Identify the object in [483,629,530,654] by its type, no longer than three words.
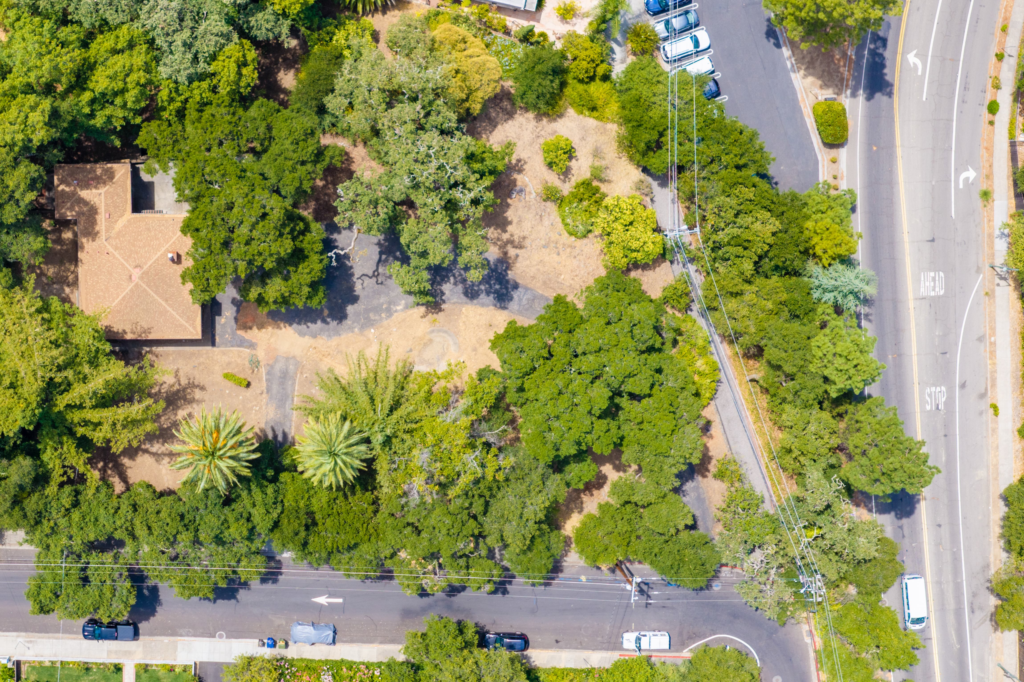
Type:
car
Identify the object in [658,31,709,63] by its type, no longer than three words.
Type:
car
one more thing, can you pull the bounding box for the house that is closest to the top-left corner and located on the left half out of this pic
[53,162,224,343]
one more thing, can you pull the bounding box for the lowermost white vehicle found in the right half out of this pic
[620,628,673,659]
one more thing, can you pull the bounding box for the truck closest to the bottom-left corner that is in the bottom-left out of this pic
[82,618,137,644]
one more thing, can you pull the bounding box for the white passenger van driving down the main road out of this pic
[897,570,930,628]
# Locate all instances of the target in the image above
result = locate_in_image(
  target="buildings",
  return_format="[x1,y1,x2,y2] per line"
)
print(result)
[53,162,224,343]
[474,0,538,12]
